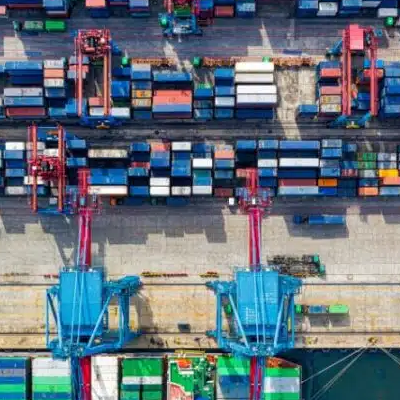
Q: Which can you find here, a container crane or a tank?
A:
container crane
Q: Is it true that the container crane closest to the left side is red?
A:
Yes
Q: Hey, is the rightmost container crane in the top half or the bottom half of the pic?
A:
top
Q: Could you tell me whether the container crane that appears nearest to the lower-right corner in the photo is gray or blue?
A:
blue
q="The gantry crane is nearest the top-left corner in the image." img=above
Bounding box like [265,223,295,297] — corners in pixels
[76,28,122,129]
